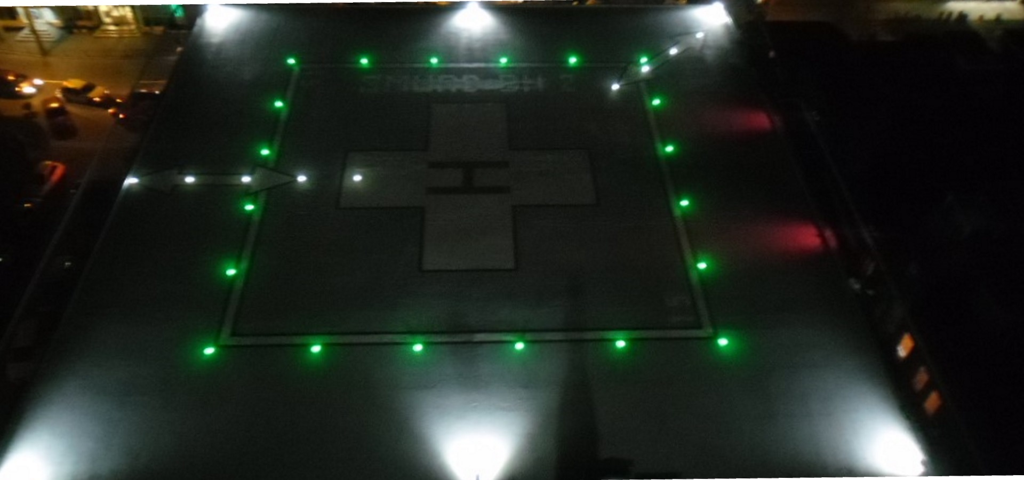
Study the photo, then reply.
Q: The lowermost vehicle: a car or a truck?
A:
car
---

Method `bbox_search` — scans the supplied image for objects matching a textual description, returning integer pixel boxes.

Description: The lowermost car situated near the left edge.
[11,164,72,214]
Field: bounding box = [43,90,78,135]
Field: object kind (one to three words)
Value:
car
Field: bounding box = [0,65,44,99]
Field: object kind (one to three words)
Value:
car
